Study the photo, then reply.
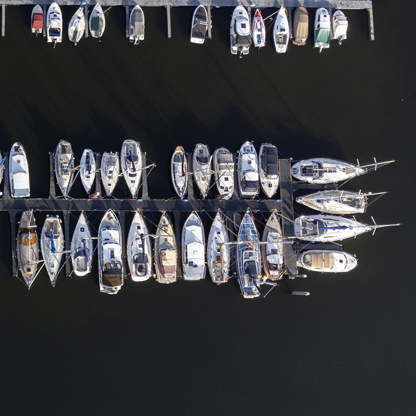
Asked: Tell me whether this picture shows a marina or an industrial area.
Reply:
marina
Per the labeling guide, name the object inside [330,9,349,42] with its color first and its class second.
white boat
